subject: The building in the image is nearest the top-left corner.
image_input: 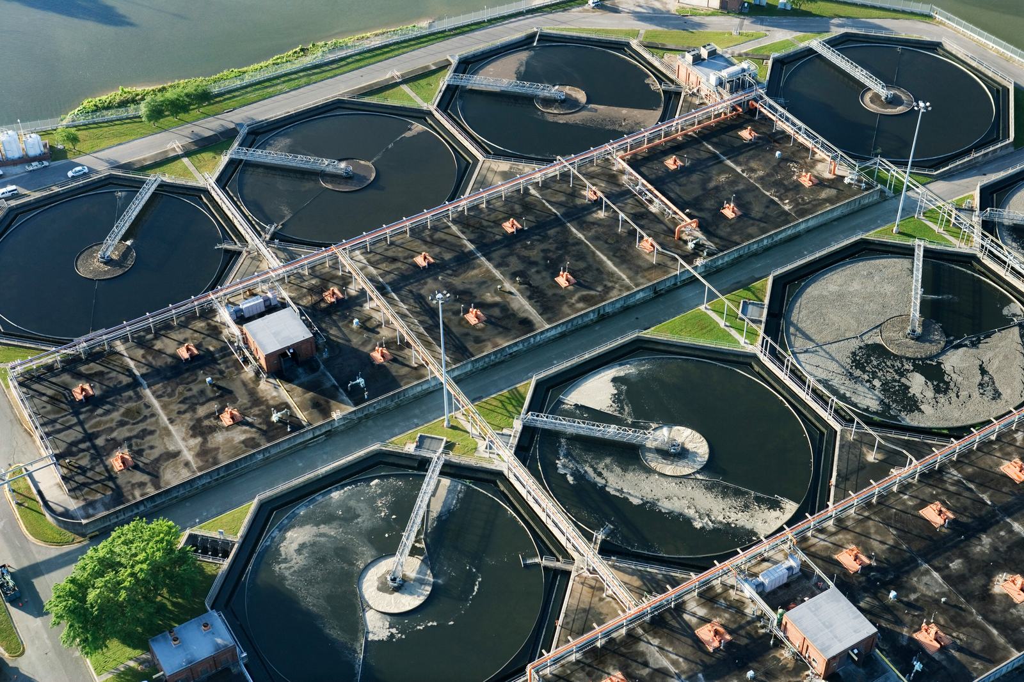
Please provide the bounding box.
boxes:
[241,305,314,373]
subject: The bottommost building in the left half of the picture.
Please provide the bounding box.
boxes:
[147,611,235,682]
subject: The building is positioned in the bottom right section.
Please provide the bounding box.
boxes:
[776,584,876,678]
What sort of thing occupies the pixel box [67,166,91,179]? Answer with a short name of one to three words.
vehicle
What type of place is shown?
industrial area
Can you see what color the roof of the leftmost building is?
blue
